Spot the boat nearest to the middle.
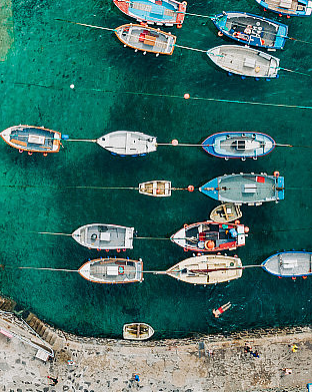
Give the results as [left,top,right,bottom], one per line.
[138,180,171,197]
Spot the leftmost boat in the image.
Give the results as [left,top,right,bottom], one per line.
[0,124,70,155]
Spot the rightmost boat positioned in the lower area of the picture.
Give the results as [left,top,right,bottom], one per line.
[262,249,312,280]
